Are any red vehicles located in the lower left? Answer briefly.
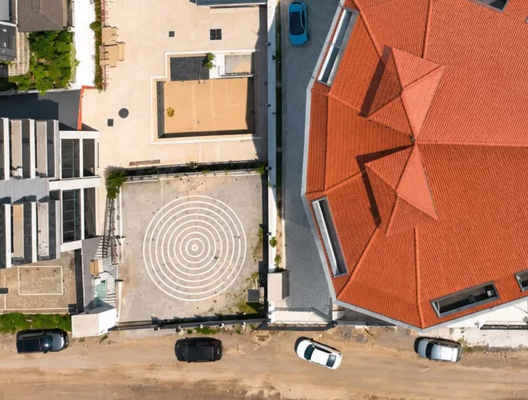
No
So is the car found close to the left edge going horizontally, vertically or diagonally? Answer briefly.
horizontally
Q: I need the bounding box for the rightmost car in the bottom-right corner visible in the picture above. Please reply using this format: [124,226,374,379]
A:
[414,335,462,364]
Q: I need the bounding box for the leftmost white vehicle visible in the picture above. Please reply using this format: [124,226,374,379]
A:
[293,335,345,369]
